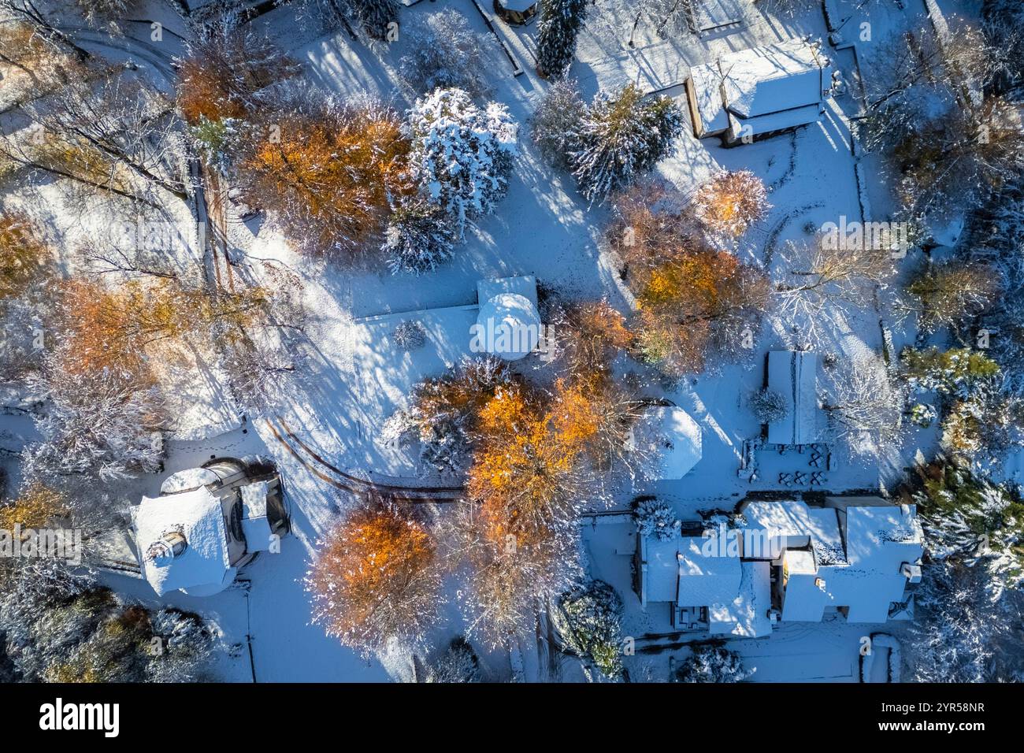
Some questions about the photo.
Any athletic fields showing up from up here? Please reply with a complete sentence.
No, no athletic field can be seen from above.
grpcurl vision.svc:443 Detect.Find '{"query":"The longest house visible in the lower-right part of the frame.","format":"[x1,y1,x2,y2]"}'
[635,493,925,638]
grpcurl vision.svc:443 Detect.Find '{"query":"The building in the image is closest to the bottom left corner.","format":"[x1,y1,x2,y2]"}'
[130,456,290,598]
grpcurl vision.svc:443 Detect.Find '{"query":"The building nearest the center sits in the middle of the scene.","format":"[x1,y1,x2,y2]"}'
[474,276,541,361]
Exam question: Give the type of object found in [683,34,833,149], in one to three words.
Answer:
house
